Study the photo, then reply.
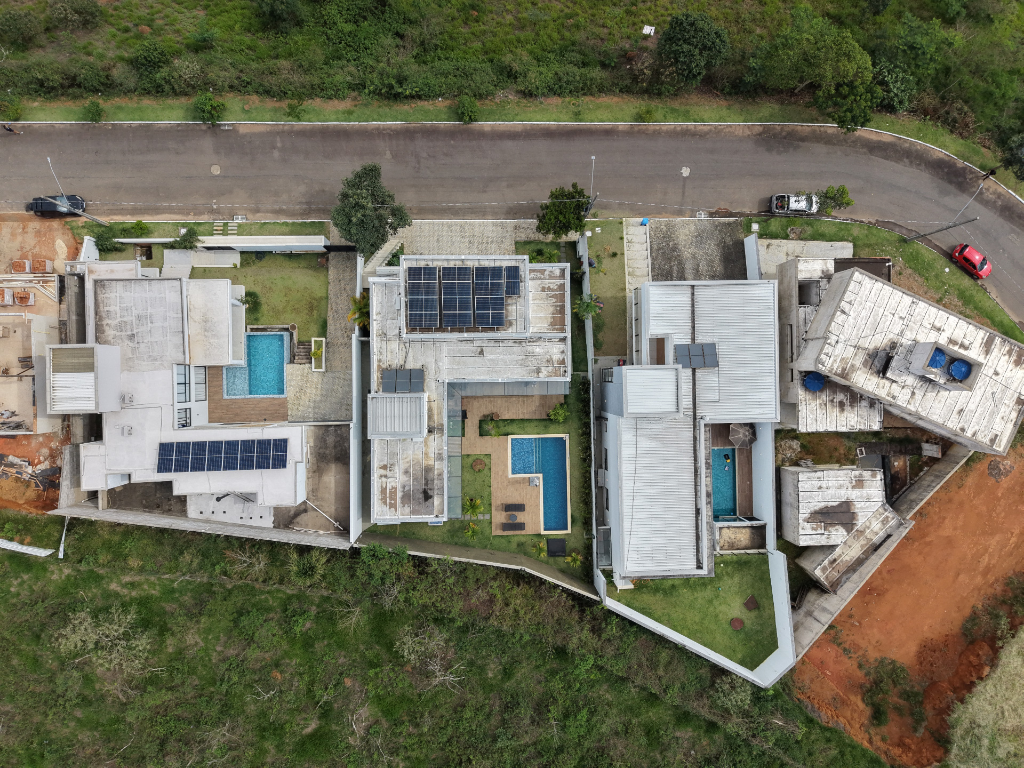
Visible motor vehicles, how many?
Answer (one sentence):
There are 3 motor vehicles in the image.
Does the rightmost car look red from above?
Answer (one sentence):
Yes, the rightmost car appears red.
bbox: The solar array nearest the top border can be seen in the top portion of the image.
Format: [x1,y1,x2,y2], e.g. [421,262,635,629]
[408,261,520,333]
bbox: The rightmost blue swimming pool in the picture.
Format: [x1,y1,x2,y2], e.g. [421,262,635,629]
[713,447,738,516]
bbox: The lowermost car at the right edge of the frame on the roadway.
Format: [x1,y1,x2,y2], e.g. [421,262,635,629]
[953,240,999,278]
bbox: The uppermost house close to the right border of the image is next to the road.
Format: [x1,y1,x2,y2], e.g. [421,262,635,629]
[777,258,1024,454]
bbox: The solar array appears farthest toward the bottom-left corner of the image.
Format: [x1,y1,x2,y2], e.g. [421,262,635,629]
[157,438,288,473]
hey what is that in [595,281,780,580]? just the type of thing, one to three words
house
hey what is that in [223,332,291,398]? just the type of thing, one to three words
swimming pool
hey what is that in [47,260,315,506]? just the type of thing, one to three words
house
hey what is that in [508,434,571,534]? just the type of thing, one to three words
swimming pool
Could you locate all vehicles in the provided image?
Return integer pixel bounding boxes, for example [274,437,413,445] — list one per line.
[771,190,824,216]
[953,240,999,278]
[20,190,85,219]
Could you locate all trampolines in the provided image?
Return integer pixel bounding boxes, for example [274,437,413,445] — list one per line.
[548,539,565,557]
